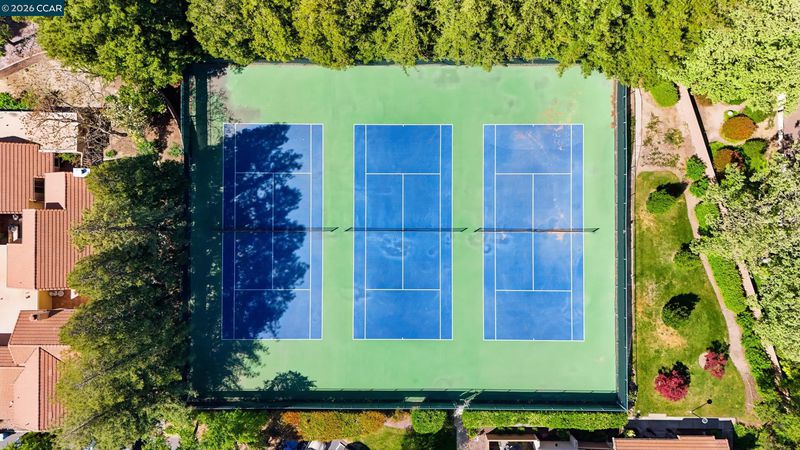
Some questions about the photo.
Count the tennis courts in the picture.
3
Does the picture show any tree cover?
Yes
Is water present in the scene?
No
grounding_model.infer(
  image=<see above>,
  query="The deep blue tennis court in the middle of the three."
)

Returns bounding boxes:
[354,124,452,340]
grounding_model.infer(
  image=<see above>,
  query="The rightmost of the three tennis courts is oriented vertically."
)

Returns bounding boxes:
[484,124,584,341]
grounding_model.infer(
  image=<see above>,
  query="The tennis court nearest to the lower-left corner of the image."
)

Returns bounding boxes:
[223,123,323,340]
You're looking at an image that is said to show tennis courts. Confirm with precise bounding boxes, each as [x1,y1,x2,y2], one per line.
[223,123,323,340]
[484,124,584,341]
[354,124,452,340]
